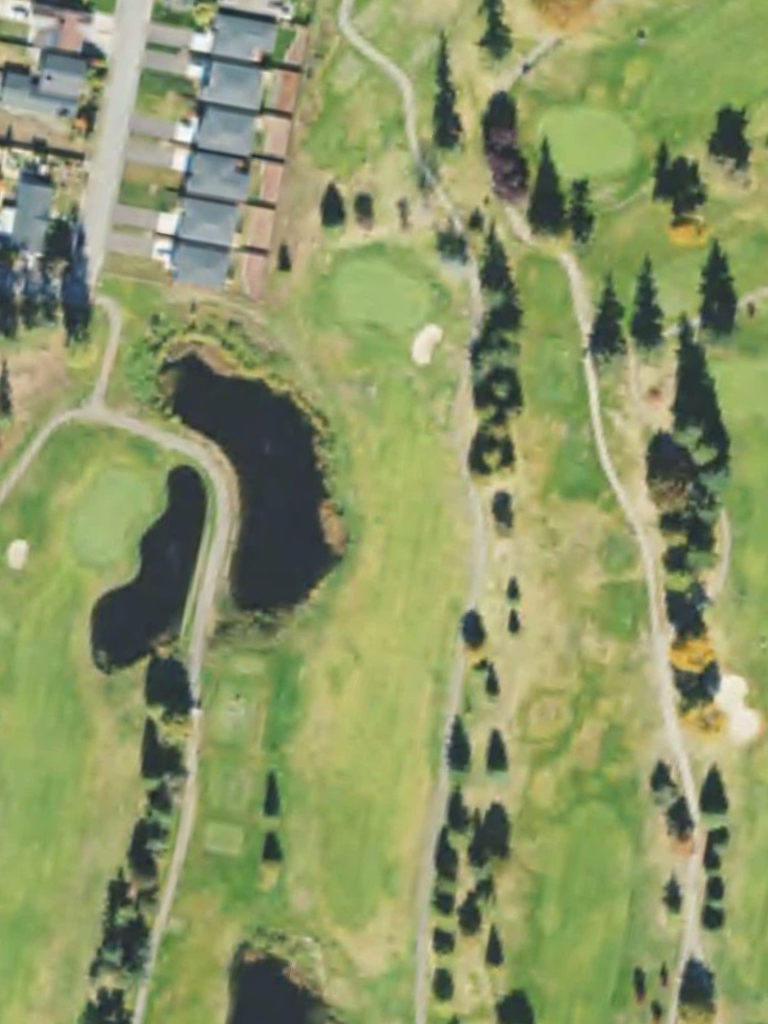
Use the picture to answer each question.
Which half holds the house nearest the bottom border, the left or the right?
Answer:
left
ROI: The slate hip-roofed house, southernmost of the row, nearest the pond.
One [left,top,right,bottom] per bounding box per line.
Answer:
[172,242,229,287]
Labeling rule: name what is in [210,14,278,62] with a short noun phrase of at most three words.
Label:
house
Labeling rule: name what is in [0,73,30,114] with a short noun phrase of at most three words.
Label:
house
